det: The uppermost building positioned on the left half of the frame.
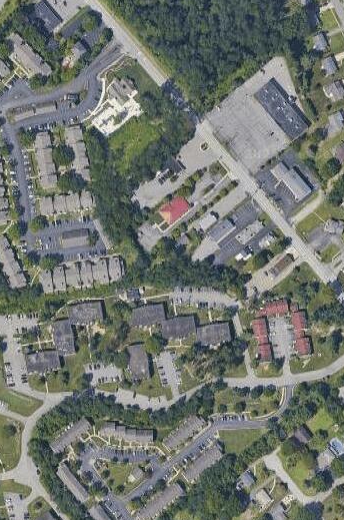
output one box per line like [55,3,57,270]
[34,0,63,30]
